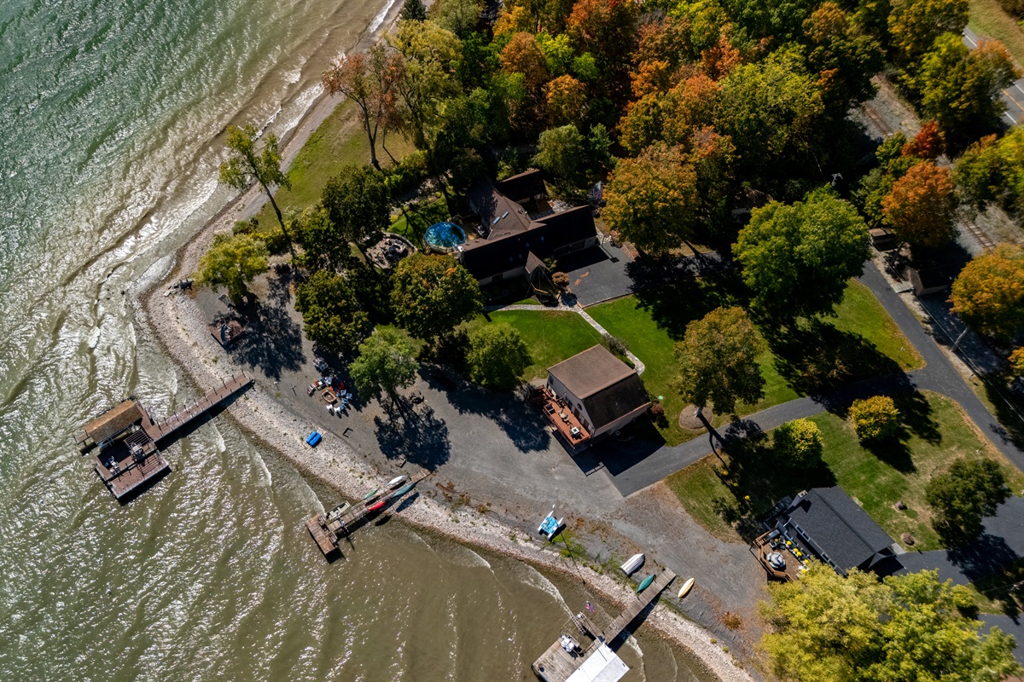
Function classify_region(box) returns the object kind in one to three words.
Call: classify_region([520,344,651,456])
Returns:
house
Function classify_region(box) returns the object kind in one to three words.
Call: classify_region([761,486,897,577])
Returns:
house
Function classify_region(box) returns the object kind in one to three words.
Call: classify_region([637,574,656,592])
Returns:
boat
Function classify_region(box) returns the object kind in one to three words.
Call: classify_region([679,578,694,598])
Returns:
boat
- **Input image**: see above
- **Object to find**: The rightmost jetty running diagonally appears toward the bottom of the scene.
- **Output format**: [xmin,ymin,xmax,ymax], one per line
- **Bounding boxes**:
[531,569,676,682]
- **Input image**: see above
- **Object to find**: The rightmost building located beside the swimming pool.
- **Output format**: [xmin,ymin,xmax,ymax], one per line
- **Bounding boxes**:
[456,170,598,288]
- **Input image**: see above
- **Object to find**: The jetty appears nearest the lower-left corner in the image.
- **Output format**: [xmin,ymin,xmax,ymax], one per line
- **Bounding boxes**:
[70,367,256,502]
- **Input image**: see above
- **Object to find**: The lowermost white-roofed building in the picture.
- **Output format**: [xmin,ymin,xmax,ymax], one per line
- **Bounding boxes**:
[566,643,629,682]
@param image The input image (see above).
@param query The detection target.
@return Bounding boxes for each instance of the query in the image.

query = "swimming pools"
[419,219,466,256]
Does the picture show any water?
Yes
